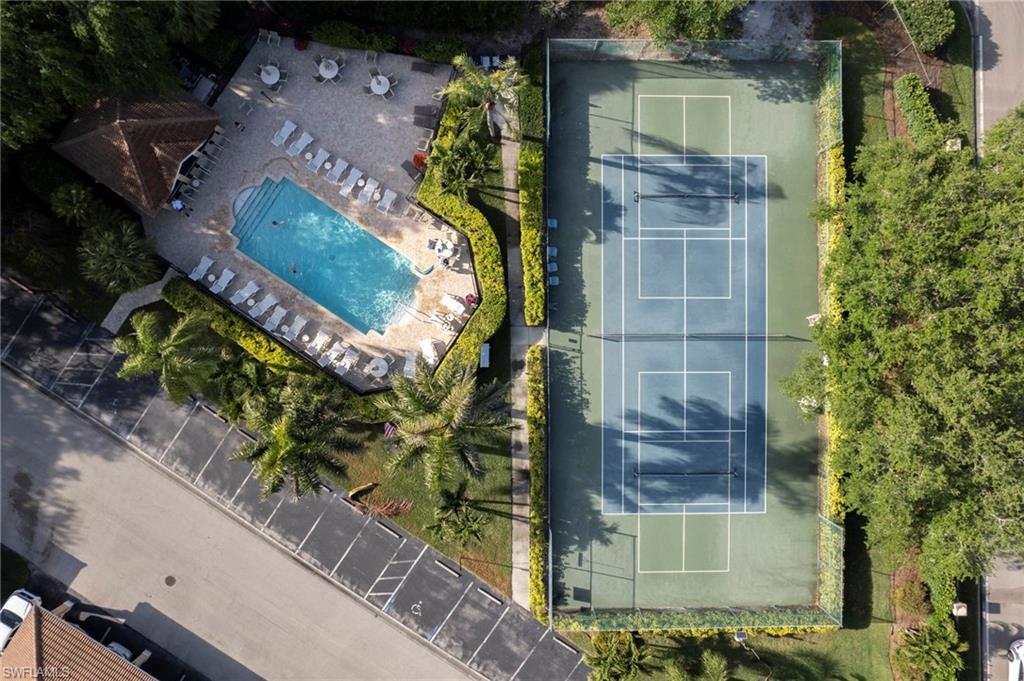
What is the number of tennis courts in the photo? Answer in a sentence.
I count just 1 tennis court.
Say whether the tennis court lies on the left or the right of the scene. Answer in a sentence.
The tennis court is on the right side of the image.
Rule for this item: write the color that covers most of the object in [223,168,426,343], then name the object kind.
blue swimming pool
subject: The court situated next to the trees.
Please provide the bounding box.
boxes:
[548,61,818,605]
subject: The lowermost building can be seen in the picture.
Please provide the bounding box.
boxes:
[0,599,163,681]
